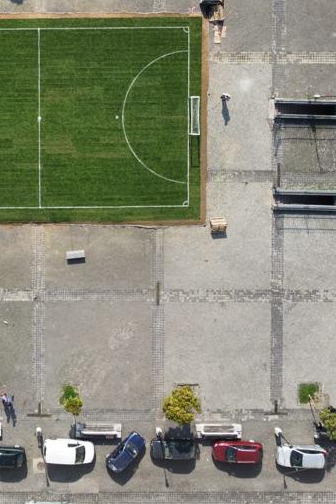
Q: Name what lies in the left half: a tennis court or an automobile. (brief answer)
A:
automobile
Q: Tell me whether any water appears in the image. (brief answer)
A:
No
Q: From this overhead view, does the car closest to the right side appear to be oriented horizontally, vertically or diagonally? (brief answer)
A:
horizontally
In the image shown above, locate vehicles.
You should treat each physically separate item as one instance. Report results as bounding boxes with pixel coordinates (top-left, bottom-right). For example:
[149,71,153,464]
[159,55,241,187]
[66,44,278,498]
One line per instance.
[211,437,263,464]
[103,428,146,475]
[273,441,328,469]
[147,433,197,460]
[43,436,93,466]
[0,442,26,469]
